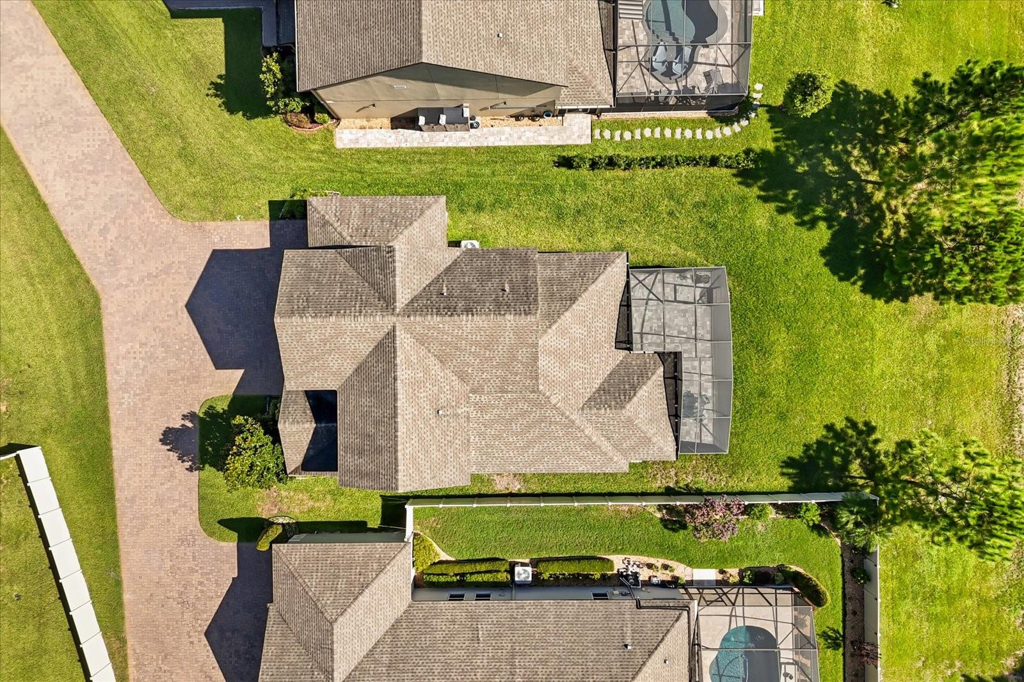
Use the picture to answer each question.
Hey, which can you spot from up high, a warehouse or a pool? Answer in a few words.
pool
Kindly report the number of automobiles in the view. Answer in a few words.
0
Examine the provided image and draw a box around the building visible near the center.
[271,195,679,492]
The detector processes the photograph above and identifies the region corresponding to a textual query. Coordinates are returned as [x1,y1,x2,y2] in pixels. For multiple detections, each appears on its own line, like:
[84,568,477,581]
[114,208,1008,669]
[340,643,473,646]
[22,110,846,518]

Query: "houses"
[256,532,697,682]
[276,0,617,122]
[271,195,679,492]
